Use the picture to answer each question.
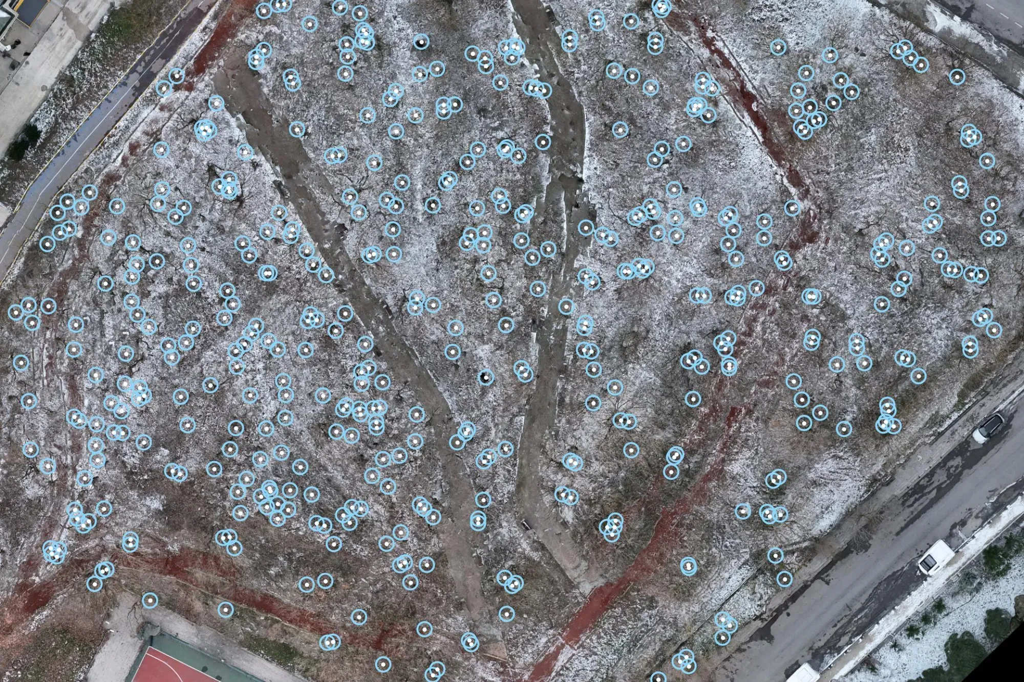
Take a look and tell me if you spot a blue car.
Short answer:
No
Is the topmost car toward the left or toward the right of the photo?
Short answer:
right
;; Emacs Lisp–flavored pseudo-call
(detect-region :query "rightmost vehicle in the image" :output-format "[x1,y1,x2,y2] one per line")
[972,412,1005,444]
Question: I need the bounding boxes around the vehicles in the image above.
[915,537,957,576]
[781,661,819,682]
[972,412,1005,444]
